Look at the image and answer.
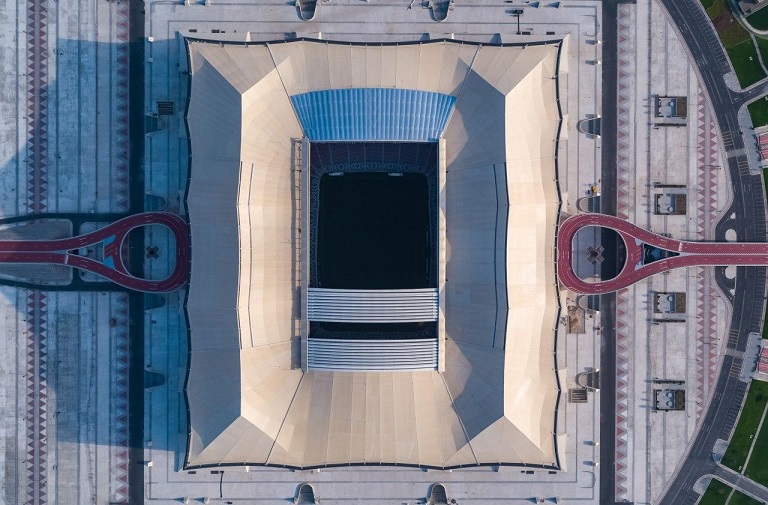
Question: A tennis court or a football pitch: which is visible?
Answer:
football pitch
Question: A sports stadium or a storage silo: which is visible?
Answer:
sports stadium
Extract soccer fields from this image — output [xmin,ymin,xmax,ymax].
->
[318,176,430,288]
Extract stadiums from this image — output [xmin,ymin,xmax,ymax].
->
[179,33,568,472]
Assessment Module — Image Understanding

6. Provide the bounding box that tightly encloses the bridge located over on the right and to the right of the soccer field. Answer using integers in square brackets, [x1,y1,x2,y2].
[558,213,768,294]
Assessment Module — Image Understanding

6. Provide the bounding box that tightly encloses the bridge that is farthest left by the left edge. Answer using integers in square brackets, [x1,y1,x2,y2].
[0,211,188,292]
